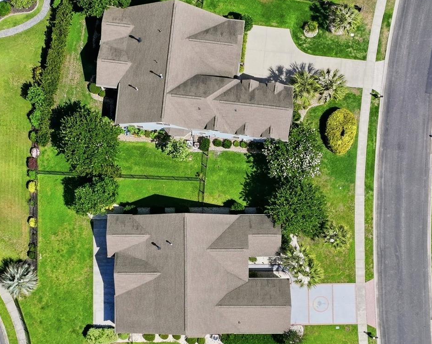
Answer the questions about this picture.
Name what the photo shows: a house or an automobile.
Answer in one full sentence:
Looking from above, you can make out a house.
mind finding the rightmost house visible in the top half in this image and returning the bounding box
[96,0,294,141]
